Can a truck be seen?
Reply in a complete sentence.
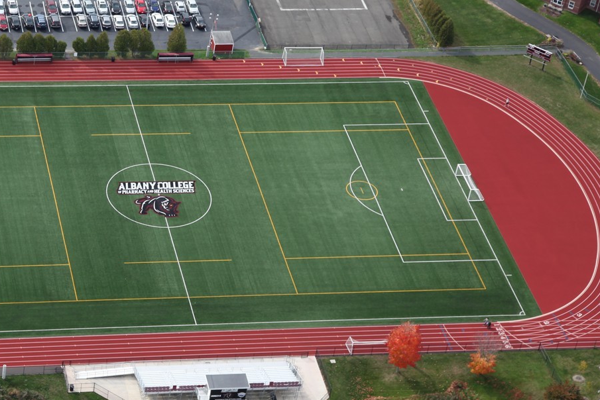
No, no truck is visible in the scene.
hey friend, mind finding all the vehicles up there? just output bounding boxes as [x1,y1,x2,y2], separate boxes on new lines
[151,15,165,28]
[174,2,187,13]
[135,0,147,13]
[0,0,6,15]
[162,1,174,15]
[138,16,150,29]
[58,0,72,15]
[109,0,121,15]
[9,16,21,30]
[35,16,47,29]
[113,17,124,30]
[179,13,191,25]
[193,15,206,29]
[148,0,161,13]
[96,0,109,15]
[70,0,83,13]
[76,16,87,30]
[0,15,8,30]
[187,0,199,13]
[165,16,175,29]
[83,0,95,15]
[7,1,19,15]
[87,11,99,29]
[126,16,139,29]
[123,0,136,15]
[46,0,58,15]
[99,16,112,29]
